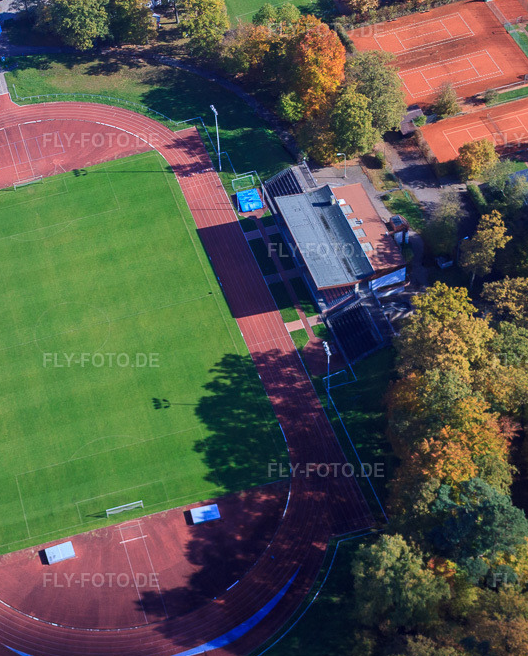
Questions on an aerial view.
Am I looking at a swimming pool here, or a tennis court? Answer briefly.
tennis court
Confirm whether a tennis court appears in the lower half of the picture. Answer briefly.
No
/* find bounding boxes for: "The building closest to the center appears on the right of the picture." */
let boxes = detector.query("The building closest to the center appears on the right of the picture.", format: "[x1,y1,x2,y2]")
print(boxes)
[332,180,411,295]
